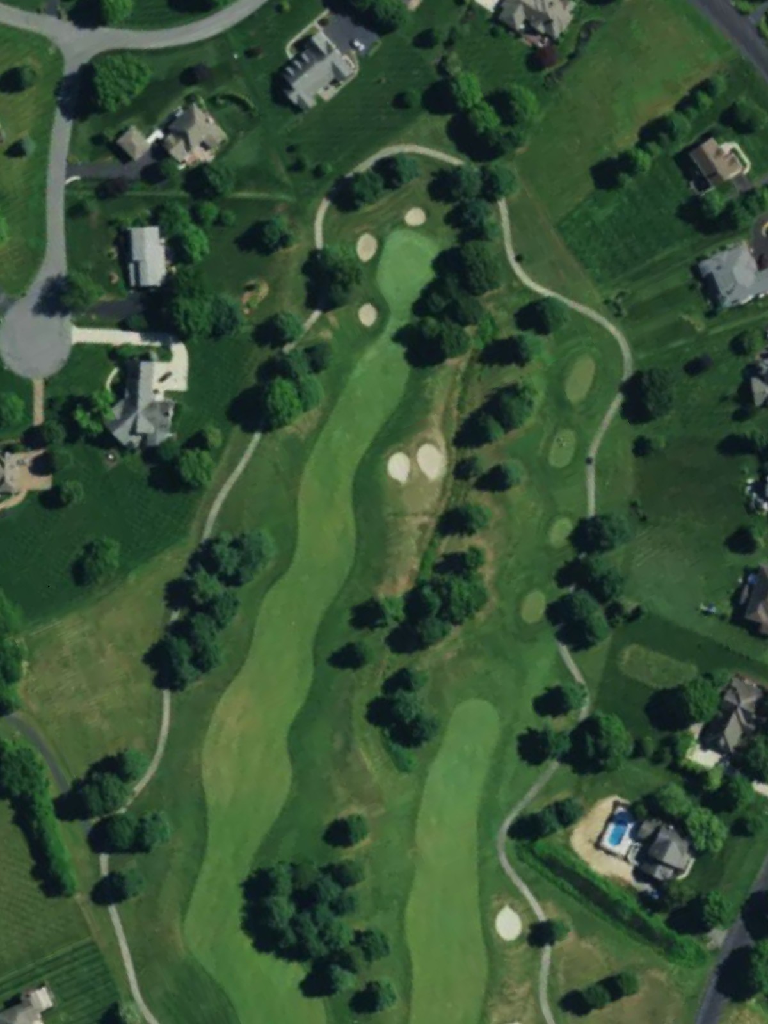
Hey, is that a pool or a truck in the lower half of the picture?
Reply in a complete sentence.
Visible in the lower half of the picture is a pool.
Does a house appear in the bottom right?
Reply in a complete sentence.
Yes, a house can be seen in the bottom right.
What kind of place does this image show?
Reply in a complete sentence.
The area seen from above is a golf course.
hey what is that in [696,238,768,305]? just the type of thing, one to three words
house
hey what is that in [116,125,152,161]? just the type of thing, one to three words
building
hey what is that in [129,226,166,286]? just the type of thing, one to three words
house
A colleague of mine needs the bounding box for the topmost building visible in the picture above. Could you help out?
[492,0,585,42]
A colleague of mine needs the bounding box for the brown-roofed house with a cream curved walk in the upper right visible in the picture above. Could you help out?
[688,135,745,186]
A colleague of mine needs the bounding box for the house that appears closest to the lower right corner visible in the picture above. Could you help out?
[634,819,694,884]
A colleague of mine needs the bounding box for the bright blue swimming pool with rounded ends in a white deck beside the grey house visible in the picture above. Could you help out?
[599,805,635,857]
